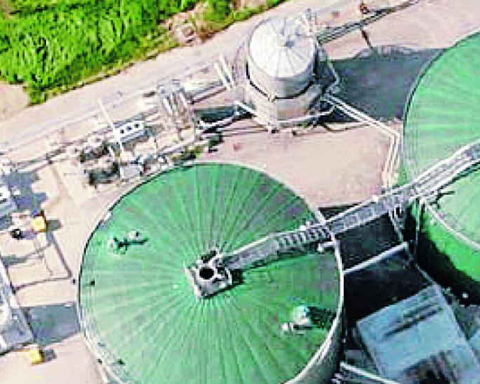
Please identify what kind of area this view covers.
industrial area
